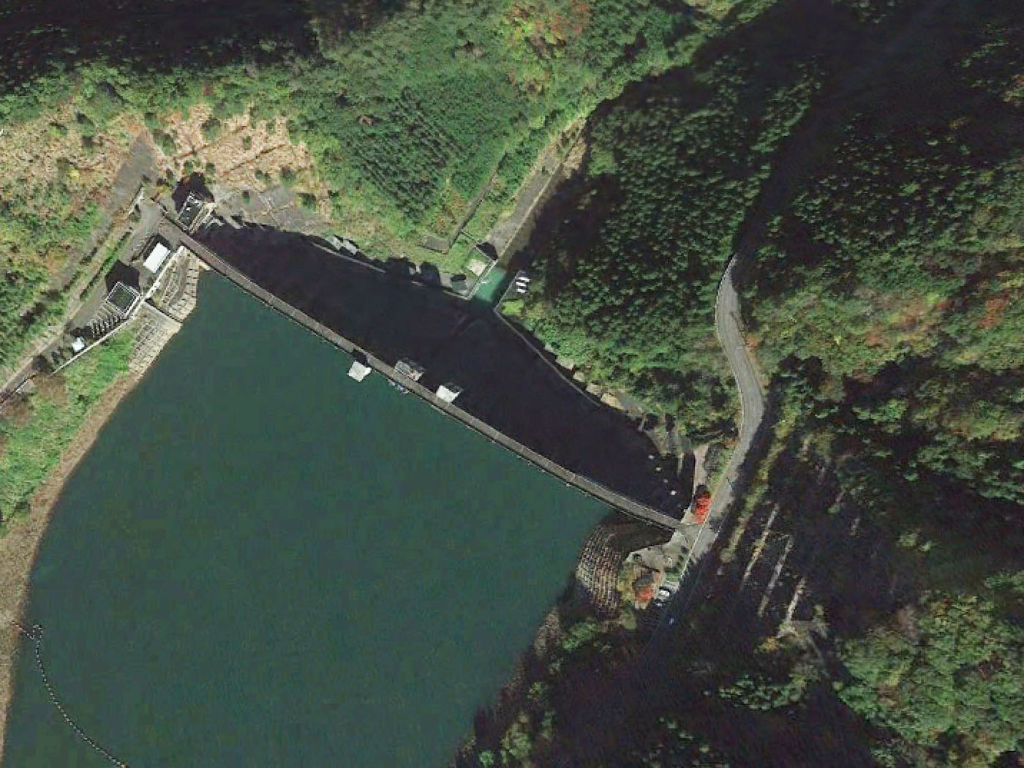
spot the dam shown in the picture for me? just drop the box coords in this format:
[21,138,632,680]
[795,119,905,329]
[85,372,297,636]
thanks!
[160,215,683,535]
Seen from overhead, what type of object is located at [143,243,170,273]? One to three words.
building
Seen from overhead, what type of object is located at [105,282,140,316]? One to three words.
building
